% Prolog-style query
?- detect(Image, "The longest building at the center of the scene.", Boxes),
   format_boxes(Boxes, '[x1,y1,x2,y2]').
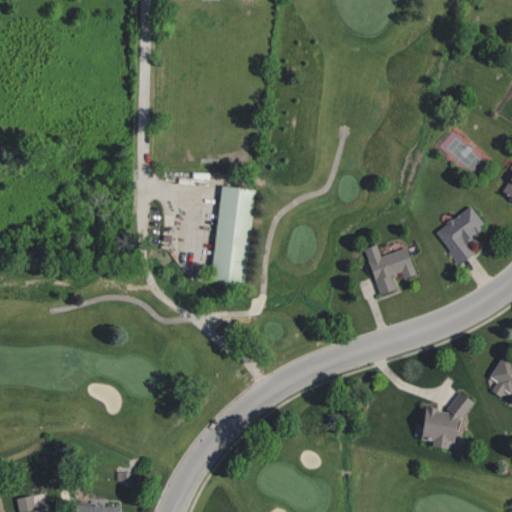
[212,186,256,282]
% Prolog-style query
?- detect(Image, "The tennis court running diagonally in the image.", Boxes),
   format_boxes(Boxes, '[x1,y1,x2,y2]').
[441,132,484,170]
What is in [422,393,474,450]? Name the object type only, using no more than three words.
house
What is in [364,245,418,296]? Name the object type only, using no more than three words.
house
